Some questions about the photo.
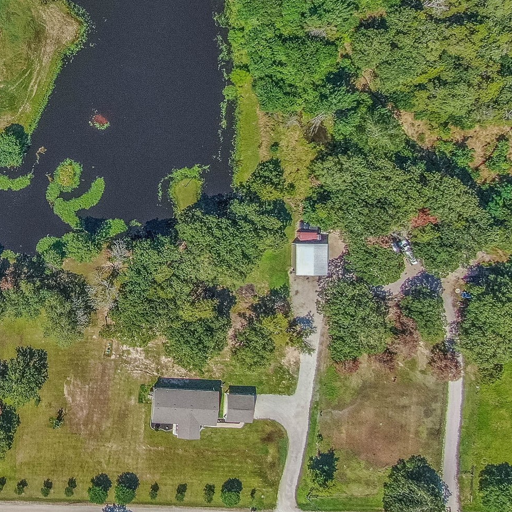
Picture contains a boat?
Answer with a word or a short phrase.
No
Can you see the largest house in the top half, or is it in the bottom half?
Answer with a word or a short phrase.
bottom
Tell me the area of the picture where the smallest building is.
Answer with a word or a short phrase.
bottom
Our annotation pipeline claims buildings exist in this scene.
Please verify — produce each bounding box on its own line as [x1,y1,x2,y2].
[225,393,255,423]
[288,244,328,276]
[152,386,221,441]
